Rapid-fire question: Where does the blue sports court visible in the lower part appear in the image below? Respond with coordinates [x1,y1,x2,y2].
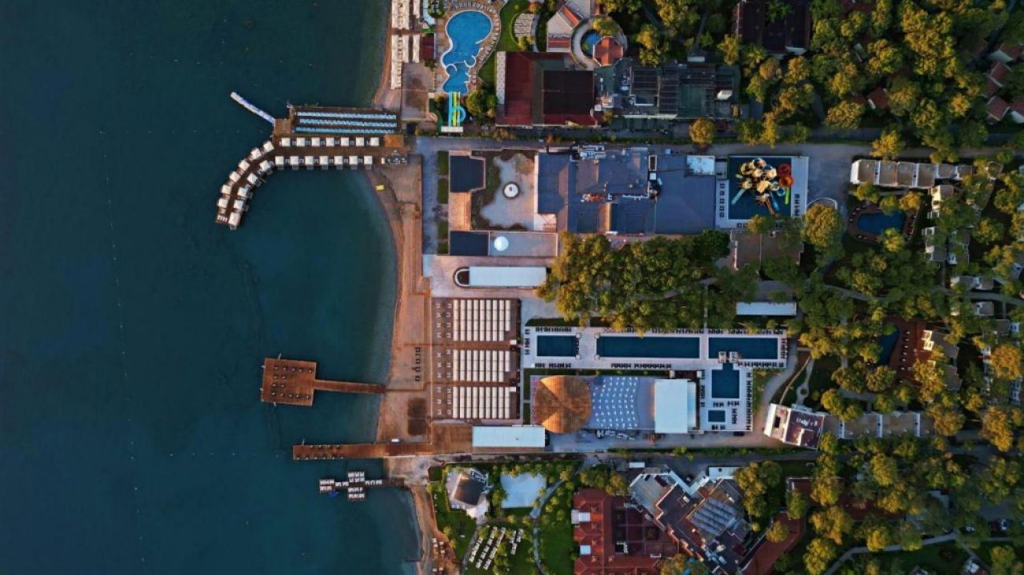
[501,474,546,508]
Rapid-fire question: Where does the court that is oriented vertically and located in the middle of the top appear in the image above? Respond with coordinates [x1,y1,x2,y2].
[401,64,428,117]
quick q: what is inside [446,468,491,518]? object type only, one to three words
house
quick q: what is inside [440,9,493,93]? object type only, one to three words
swimming pool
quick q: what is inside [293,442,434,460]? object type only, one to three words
pier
